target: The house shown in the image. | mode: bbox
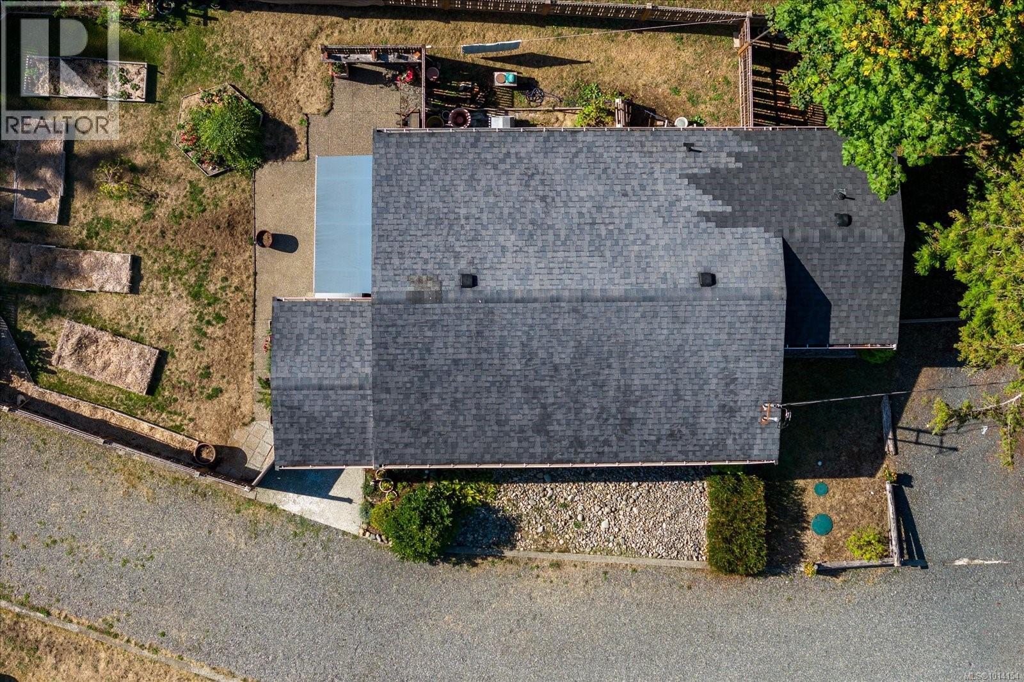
[266,129,902,468]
